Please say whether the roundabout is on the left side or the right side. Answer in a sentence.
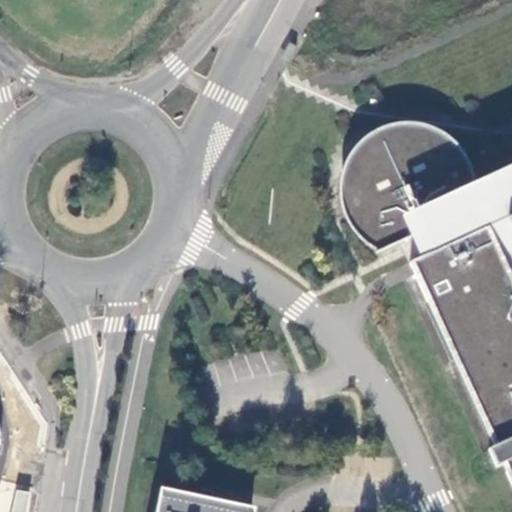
You can find the roundabout on the left side of the picture.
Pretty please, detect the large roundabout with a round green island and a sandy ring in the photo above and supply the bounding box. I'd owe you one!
[0,86,202,307]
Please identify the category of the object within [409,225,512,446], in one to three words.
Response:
building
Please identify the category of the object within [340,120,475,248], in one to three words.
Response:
building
